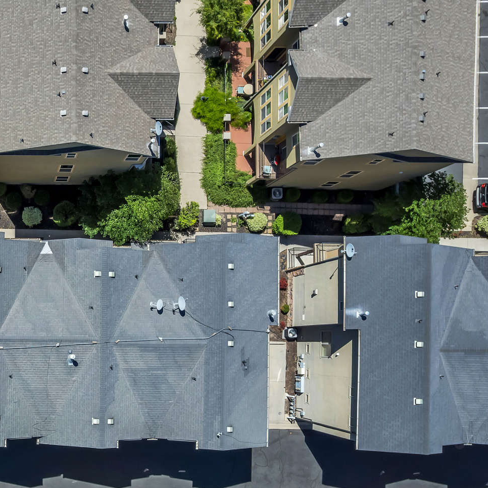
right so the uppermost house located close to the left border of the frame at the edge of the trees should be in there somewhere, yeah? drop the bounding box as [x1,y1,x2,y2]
[0,0,180,183]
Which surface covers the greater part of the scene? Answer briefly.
buildings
